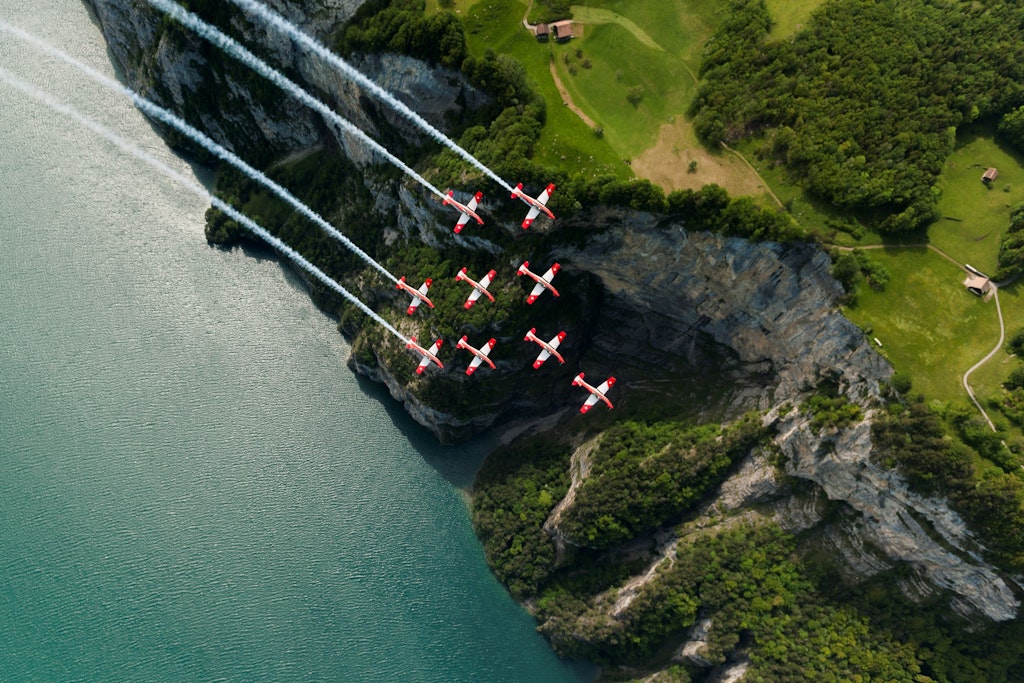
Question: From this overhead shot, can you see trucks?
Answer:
No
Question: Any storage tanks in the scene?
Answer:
No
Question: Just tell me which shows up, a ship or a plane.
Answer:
plane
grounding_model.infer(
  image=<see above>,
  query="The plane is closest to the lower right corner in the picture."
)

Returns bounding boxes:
[571,373,614,412]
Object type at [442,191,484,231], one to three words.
airplane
